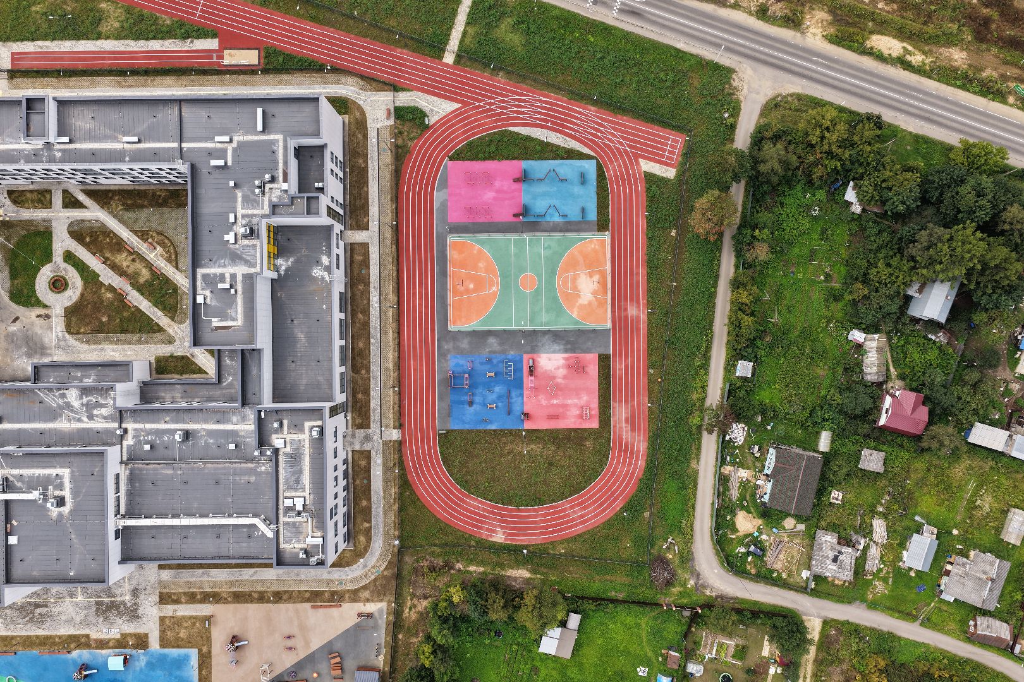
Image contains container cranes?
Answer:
No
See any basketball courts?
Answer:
Yes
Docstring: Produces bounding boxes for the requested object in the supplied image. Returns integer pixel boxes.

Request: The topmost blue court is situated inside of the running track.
[522,160,597,221]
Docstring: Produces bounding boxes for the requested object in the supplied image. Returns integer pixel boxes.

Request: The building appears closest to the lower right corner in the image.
[967,613,1013,648]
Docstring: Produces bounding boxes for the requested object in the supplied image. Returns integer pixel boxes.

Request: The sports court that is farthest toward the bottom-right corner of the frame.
[524,354,598,428]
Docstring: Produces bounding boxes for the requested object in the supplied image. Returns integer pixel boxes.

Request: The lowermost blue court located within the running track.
[450,354,524,429]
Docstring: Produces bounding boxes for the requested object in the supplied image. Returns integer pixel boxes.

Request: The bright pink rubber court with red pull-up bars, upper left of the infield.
[448,160,522,222]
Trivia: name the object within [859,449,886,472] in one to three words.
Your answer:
shed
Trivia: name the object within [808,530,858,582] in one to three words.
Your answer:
house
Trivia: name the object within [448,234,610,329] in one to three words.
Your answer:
basketball court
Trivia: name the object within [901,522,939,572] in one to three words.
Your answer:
house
